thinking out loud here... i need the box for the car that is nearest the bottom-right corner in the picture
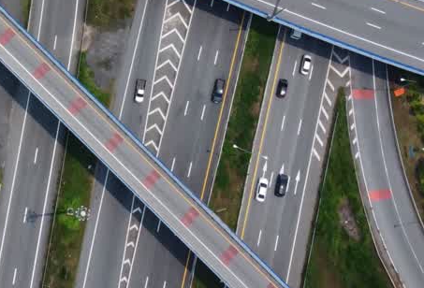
[275,172,290,198]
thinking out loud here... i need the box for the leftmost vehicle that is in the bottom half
[255,177,269,203]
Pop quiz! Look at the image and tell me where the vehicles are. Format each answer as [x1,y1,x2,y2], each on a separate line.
[255,177,269,203]
[275,172,290,198]
[290,32,301,46]
[300,53,313,76]
[212,76,227,103]
[275,76,288,101]
[134,76,148,104]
